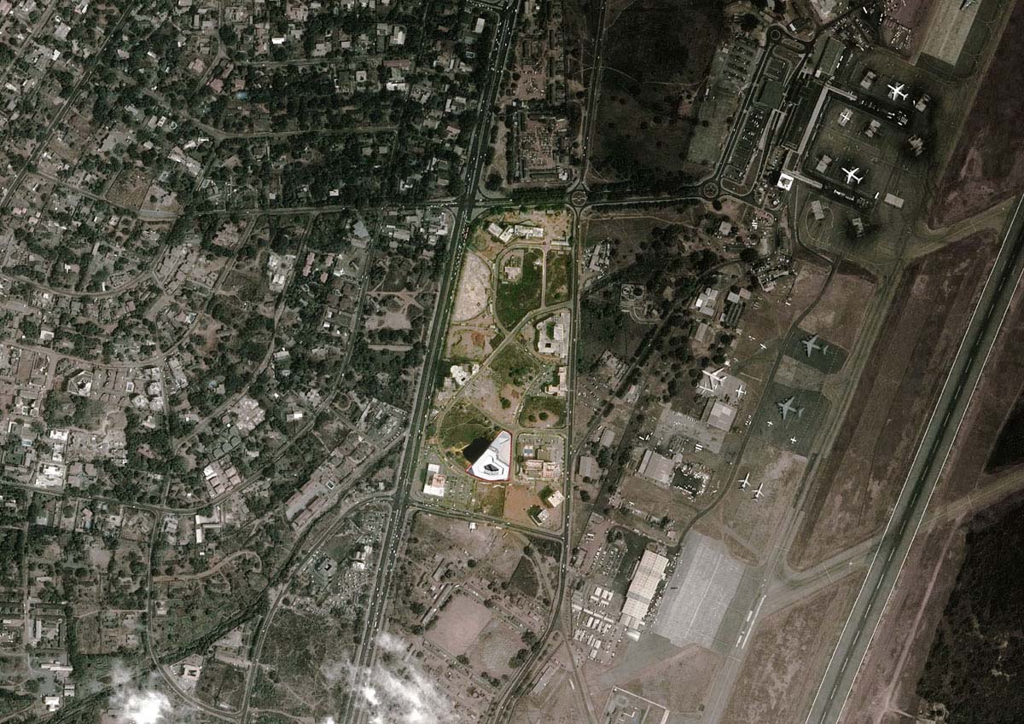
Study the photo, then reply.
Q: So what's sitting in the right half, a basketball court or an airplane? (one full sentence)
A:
What appears in the right half is an airplane.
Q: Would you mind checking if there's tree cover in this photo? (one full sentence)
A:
Yes, tree cover can be seen from above here.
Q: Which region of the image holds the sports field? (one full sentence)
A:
The sports field appears toward the bottom of the photo.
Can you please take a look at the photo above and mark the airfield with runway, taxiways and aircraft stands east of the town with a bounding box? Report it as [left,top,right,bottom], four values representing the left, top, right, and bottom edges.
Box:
[601,0,1024,724]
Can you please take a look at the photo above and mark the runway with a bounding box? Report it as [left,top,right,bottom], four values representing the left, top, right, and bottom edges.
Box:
[805,191,1024,724]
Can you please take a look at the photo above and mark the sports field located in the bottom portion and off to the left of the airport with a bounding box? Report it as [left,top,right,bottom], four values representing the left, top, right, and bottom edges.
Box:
[425,595,492,655]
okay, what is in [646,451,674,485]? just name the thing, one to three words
hangar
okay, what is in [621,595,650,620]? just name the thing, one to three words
hangar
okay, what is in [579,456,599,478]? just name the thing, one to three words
building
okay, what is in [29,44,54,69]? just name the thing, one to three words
house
